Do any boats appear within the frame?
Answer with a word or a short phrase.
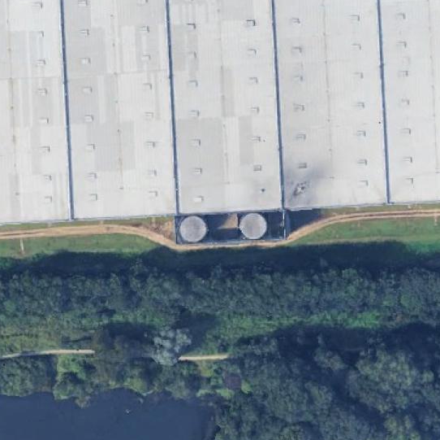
No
